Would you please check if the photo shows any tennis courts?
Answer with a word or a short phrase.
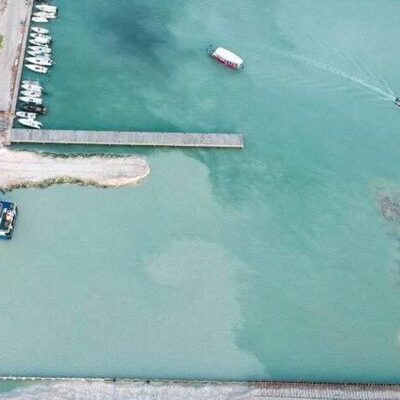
No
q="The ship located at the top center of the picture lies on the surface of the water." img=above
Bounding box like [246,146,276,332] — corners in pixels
[209,44,248,70]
